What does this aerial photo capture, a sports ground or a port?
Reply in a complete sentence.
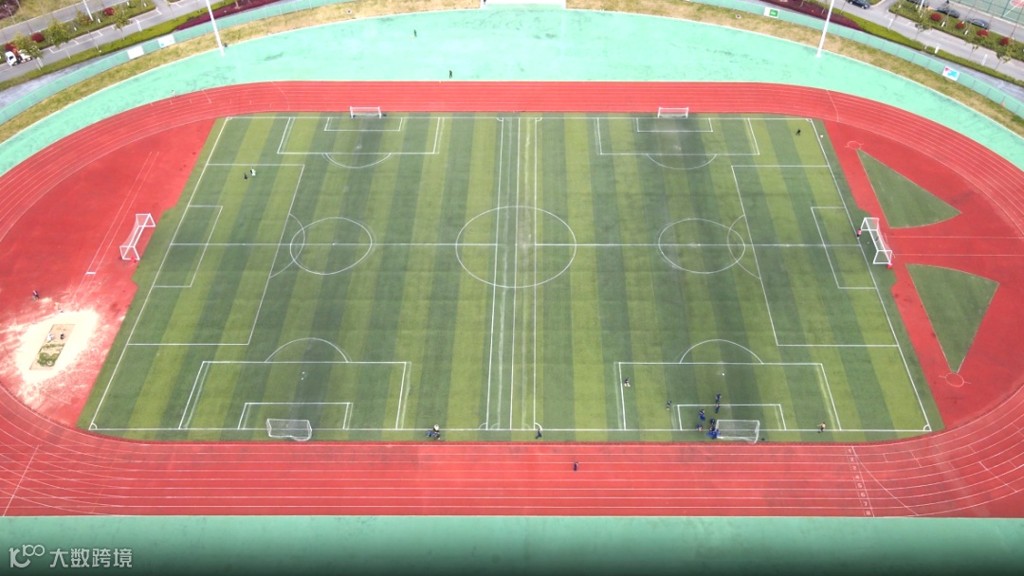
This looks like a sports ground.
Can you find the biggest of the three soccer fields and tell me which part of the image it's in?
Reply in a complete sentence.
The biggest of the three soccer fields sits in the center section of the image.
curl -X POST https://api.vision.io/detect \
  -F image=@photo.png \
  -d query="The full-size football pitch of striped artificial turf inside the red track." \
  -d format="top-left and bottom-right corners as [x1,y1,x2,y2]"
[77,112,945,443]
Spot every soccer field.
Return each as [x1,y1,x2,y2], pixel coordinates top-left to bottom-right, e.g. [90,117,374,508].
[180,118,512,430]
[77,112,945,443]
[523,118,840,430]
